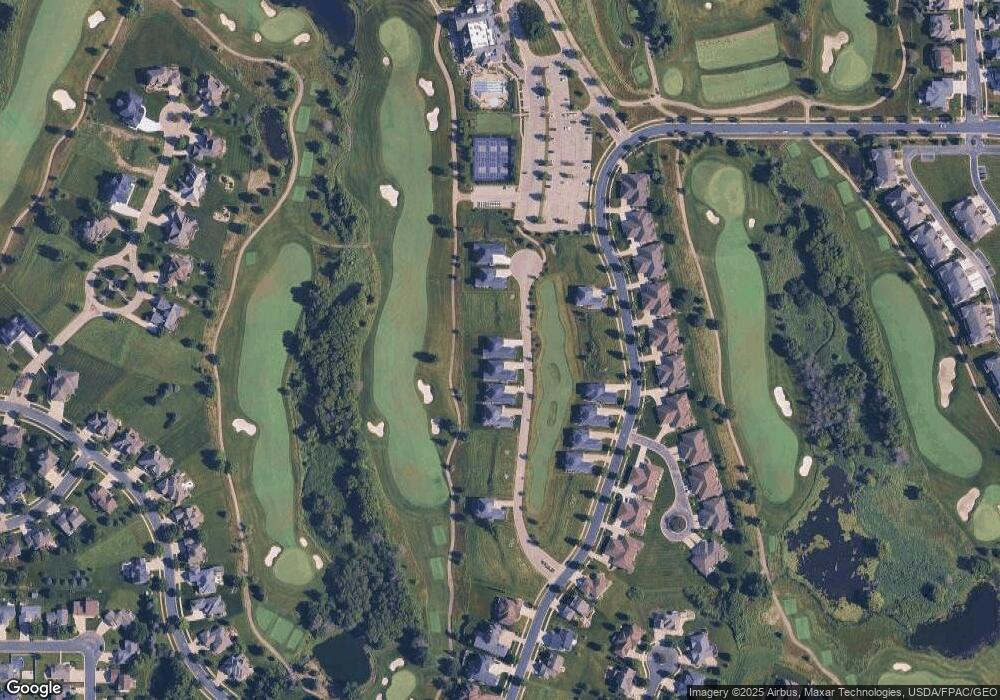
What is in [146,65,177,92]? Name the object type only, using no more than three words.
house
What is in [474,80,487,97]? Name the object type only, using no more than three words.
swimming pool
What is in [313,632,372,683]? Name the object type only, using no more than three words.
pond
